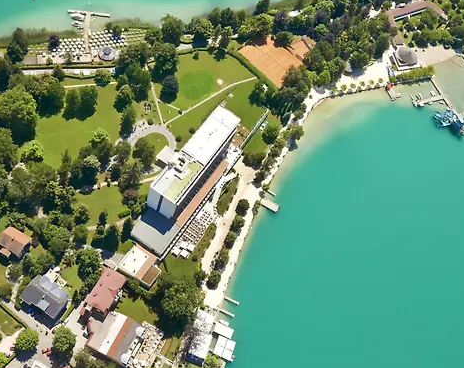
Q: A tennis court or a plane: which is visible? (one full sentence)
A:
The one in the frame is a tennis court.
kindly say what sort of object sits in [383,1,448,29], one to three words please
building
